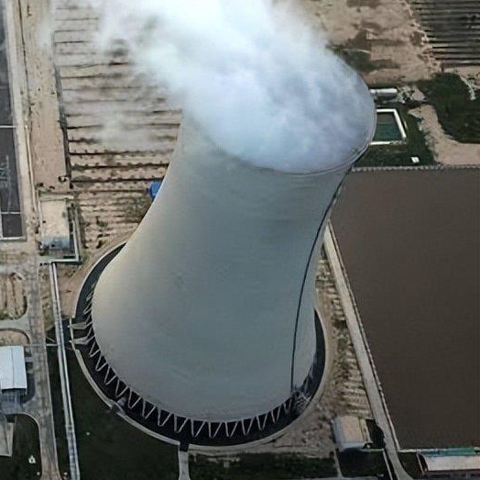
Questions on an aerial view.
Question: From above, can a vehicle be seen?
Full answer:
No, this view has no vehicle in it.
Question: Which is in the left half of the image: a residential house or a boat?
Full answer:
You can see a residential house in the left half of the image.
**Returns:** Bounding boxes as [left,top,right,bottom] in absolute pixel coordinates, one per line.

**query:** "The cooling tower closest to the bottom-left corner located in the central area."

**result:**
[70,33,379,450]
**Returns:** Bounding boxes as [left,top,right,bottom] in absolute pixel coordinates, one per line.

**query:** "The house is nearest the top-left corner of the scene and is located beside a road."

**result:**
[40,198,70,238]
